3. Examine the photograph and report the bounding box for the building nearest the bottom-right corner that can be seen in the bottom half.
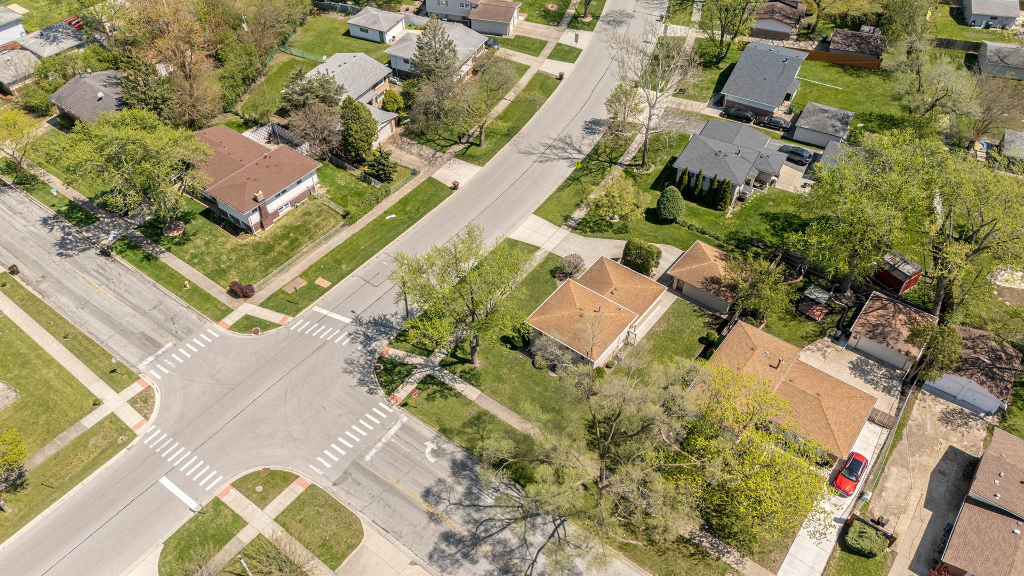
[938,423,1024,576]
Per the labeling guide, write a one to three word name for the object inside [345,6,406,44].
building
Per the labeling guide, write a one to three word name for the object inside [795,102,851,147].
building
